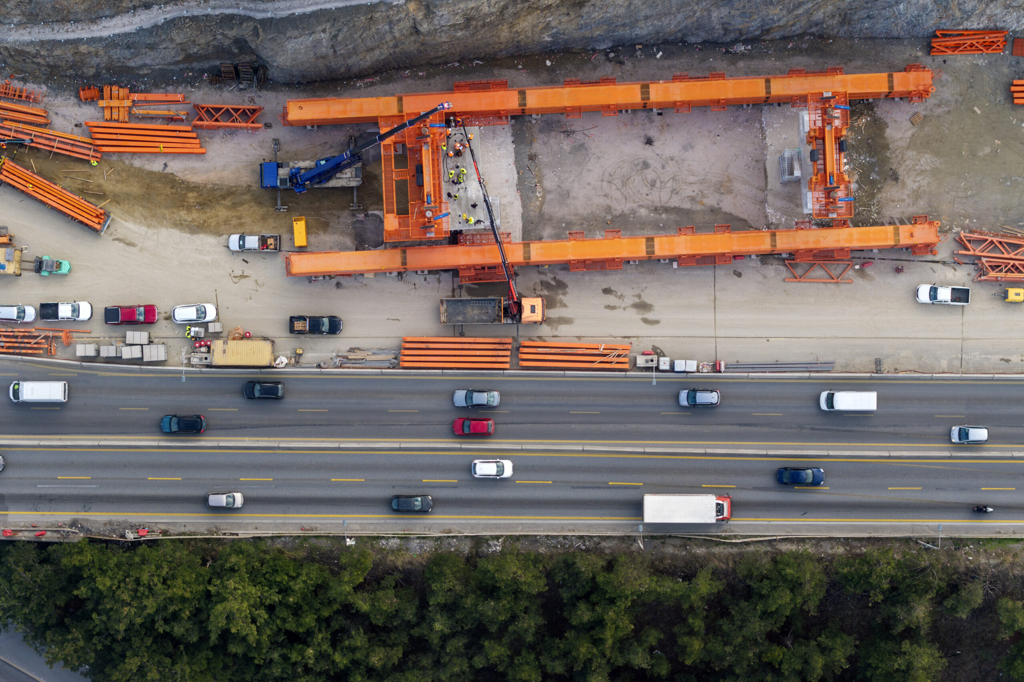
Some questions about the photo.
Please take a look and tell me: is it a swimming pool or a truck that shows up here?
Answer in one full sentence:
Looking from above, you can make out a truck.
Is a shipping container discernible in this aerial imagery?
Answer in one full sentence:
Yes, the photo shows a shipping container.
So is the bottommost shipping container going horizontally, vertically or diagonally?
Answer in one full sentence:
The bottommost shipping container runs horizontally in the image.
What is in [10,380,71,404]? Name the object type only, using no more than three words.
vehicle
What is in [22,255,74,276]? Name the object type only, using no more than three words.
work vehicle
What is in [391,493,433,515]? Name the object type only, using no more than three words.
car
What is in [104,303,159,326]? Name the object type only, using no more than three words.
truck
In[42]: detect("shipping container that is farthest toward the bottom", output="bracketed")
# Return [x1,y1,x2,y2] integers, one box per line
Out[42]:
[211,340,275,366]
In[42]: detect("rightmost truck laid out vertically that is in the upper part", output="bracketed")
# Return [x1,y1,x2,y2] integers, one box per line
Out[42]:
[441,120,546,350]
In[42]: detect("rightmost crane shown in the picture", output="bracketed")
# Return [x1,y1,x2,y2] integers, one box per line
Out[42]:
[261,101,454,212]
